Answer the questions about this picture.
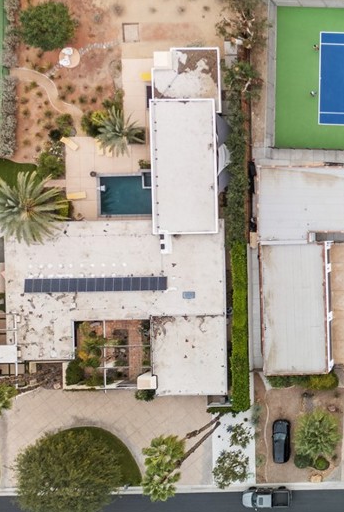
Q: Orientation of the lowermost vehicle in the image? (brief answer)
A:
from side to side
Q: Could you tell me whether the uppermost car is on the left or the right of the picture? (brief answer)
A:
right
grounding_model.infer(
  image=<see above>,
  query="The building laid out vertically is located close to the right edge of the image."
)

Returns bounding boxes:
[258,166,344,375]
